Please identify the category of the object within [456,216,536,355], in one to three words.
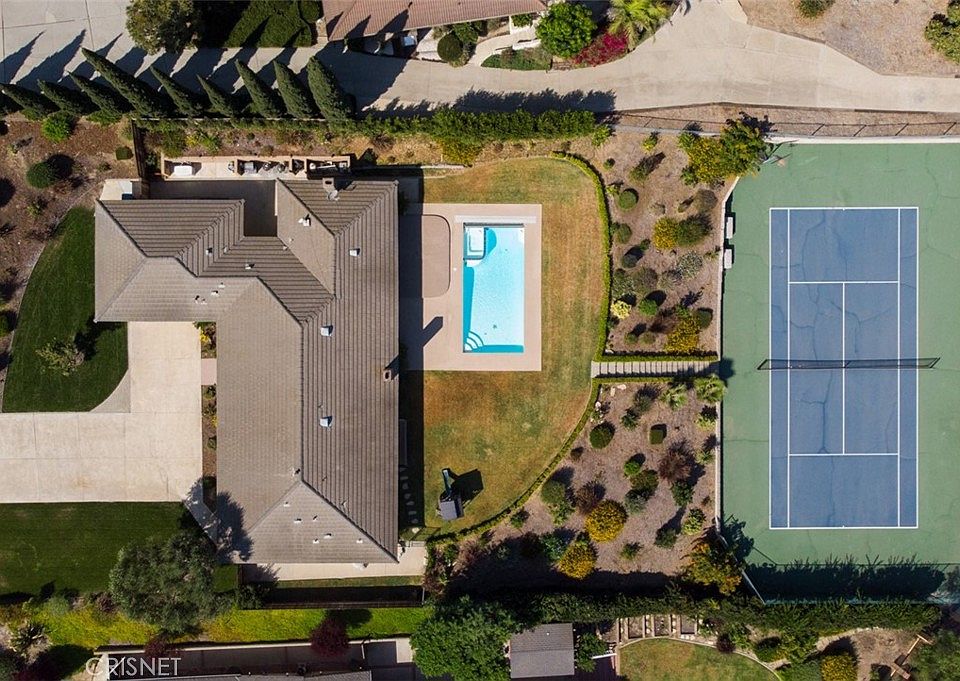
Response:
swimming pool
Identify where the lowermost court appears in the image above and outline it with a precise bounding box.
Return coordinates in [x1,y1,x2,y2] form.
[718,146,960,606]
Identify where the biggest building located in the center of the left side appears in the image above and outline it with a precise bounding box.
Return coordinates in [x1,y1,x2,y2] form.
[94,178,399,564]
